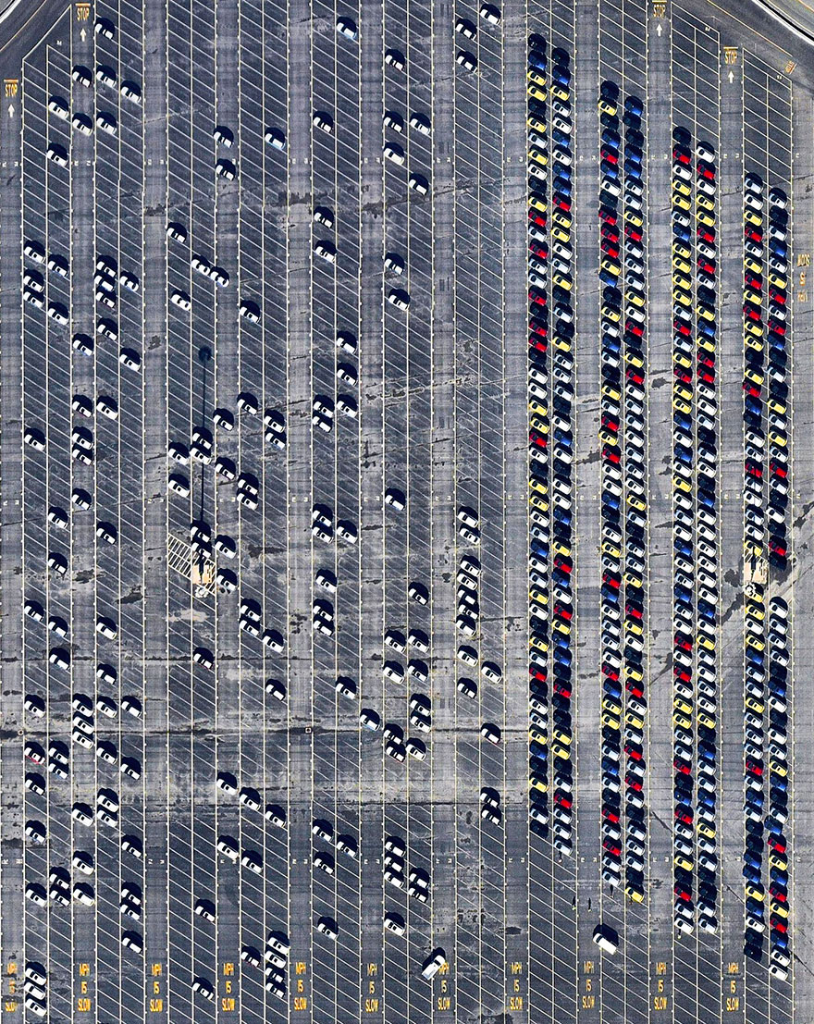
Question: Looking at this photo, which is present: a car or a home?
car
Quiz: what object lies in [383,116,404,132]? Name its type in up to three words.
car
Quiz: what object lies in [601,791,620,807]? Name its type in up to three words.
car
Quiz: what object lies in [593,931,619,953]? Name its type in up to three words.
vehicle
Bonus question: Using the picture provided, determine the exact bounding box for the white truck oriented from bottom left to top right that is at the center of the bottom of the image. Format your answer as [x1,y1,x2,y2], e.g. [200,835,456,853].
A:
[422,954,445,979]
